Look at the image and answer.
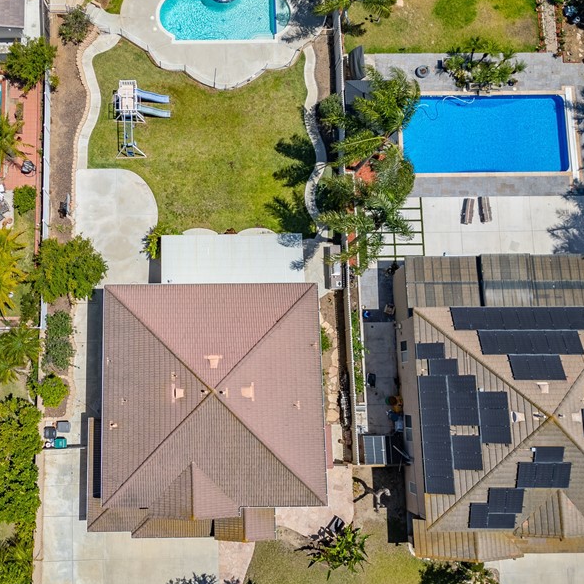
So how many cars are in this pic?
none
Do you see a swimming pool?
Yes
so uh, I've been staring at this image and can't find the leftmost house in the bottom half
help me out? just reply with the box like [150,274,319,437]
[85,281,329,542]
